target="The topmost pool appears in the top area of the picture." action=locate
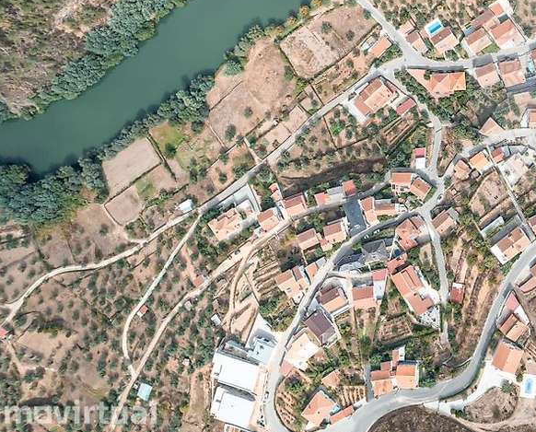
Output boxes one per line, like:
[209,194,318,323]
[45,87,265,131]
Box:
[422,16,447,39]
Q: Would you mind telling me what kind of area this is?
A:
residential area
